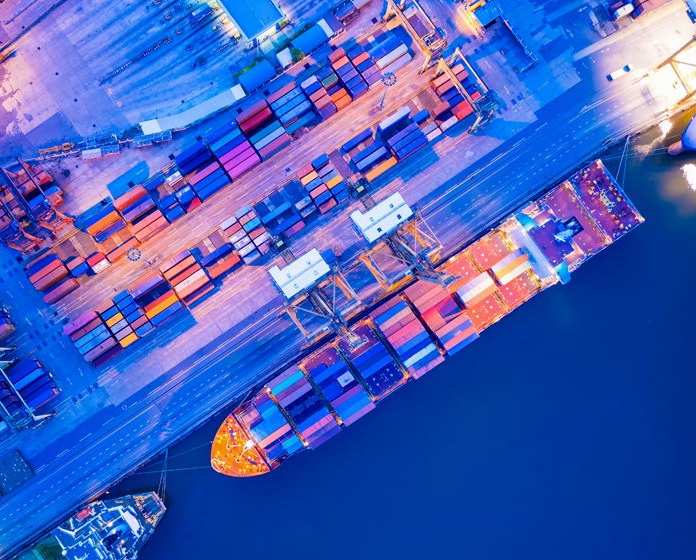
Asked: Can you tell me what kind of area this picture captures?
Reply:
port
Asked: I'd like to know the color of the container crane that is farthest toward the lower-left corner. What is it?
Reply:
blue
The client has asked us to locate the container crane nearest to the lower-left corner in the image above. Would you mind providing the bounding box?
[0,356,57,443]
